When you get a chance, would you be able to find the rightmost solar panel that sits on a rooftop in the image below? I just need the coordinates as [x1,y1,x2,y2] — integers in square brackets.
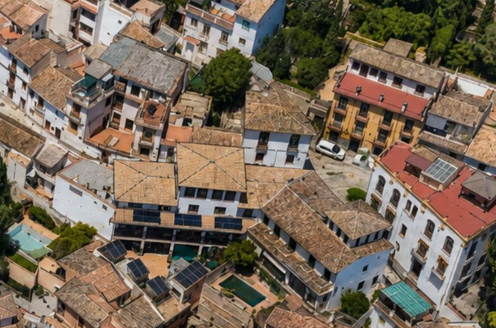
[215,216,241,233]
